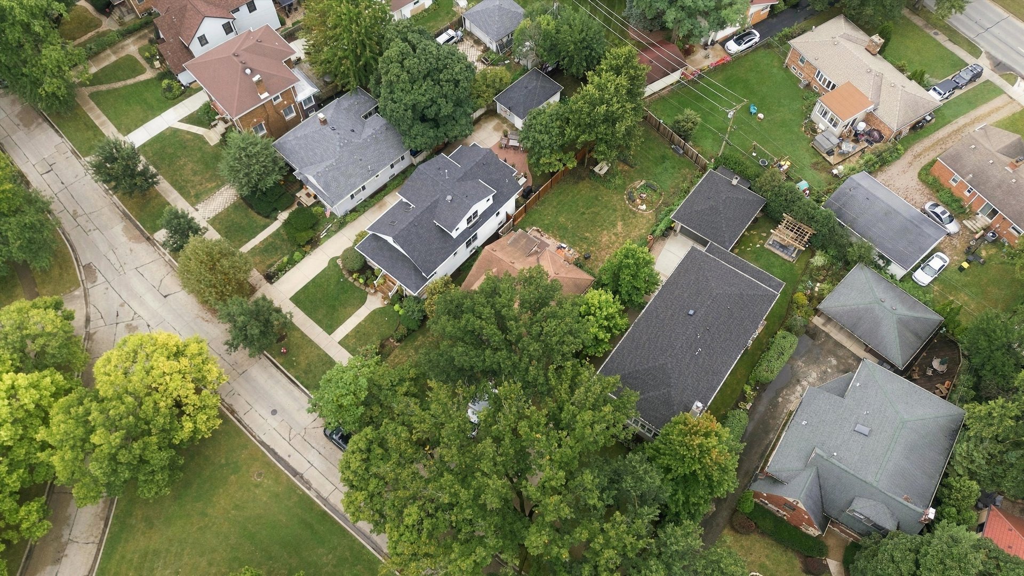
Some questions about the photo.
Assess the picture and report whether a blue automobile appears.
No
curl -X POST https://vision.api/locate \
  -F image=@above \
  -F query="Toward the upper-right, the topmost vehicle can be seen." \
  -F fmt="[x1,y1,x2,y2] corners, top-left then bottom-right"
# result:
[726,28,764,57]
